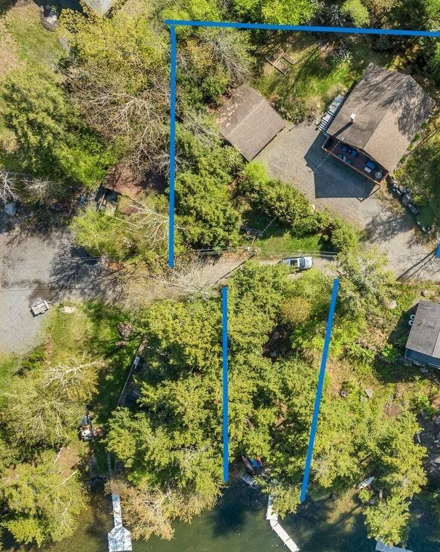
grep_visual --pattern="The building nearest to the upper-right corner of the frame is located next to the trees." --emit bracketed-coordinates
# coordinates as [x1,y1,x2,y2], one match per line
[323,62,435,187]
